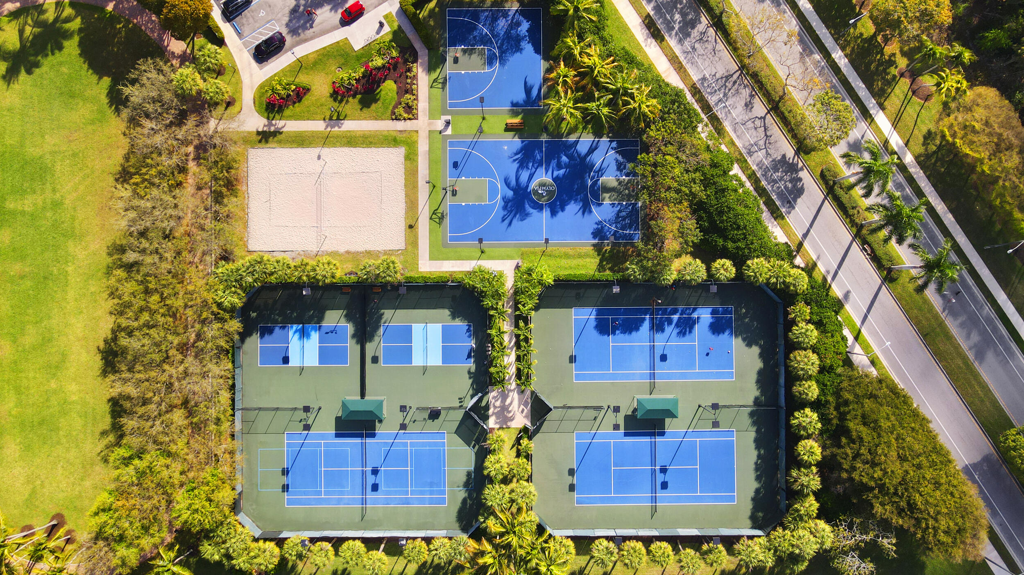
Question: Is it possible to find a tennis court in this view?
Yes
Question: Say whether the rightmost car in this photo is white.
No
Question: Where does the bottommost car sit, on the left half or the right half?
left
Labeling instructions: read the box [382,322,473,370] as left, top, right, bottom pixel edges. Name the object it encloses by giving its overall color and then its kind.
blue sports court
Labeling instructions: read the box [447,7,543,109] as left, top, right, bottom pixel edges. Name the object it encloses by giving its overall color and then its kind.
blue basketball court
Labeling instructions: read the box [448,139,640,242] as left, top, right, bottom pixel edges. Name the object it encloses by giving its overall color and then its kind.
blue basketball court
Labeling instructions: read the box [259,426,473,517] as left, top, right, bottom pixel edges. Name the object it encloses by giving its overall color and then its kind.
blue tennis court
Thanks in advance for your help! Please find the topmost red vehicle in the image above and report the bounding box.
[341,0,369,23]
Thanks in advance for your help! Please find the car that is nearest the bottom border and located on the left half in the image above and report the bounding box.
[254,31,286,57]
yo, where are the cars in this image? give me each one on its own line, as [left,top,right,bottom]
[254,31,286,57]
[341,0,369,23]
[221,0,255,18]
